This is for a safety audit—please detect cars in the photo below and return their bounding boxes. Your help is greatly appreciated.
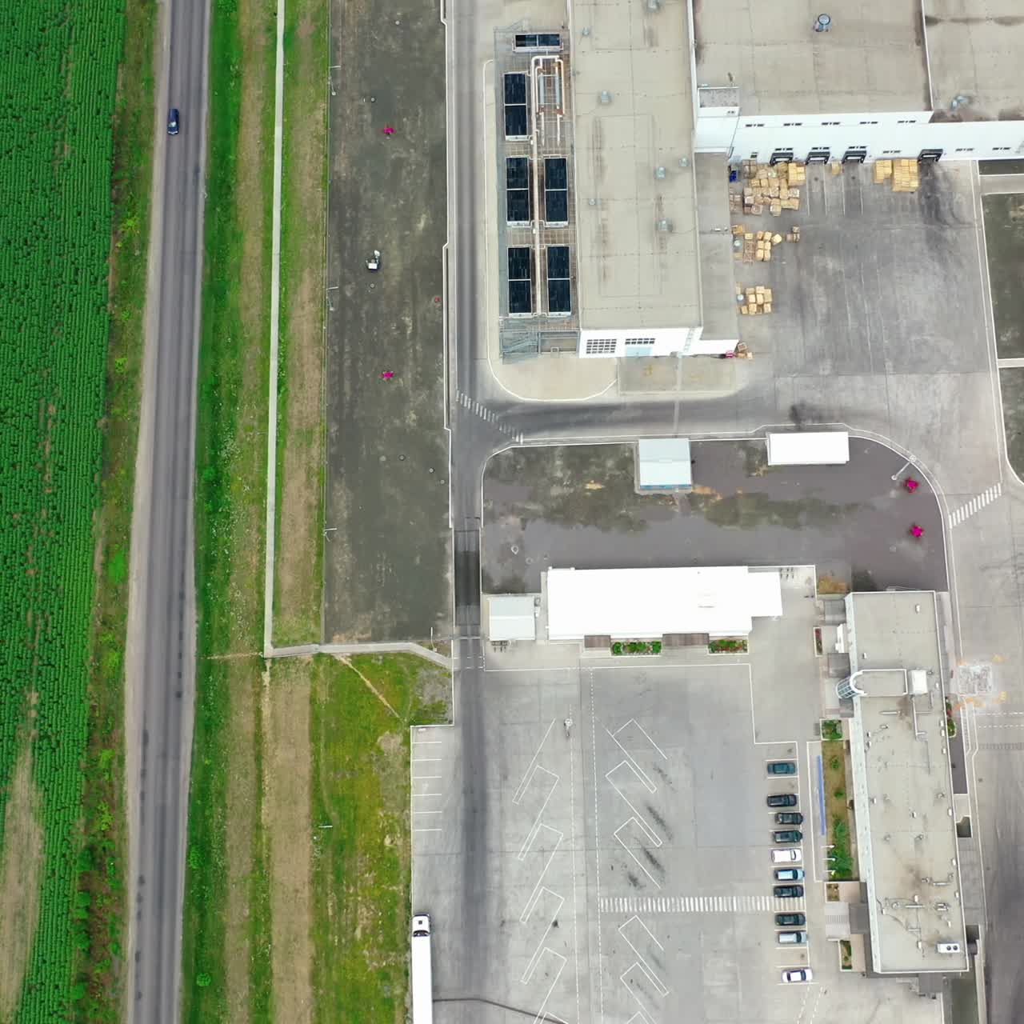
[777,929,807,944]
[774,811,803,826]
[167,111,180,134]
[765,793,797,808]
[781,968,812,983]
[774,913,806,928]
[773,829,802,844]
[771,848,802,863]
[774,868,805,882]
[765,761,794,775]
[772,884,803,899]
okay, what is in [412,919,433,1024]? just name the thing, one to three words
truck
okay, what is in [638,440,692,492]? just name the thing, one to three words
building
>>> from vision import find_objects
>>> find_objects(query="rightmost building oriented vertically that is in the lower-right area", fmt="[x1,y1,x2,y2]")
[843,590,969,972]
